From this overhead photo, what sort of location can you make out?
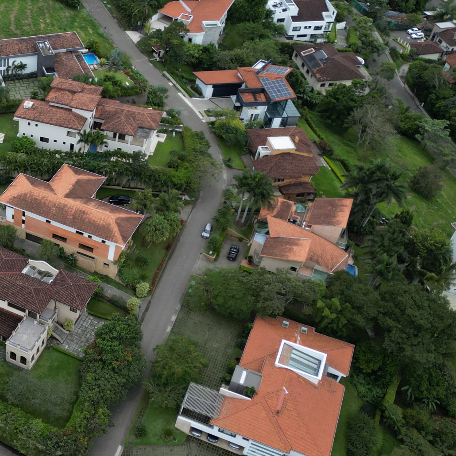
residential area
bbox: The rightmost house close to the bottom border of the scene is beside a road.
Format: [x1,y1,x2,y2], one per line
[174,312,356,456]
